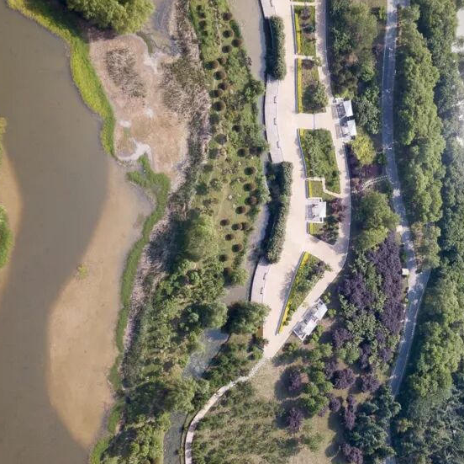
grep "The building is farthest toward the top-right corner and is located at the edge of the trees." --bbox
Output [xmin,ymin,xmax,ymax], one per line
[333,98,356,138]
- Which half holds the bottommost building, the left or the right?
right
